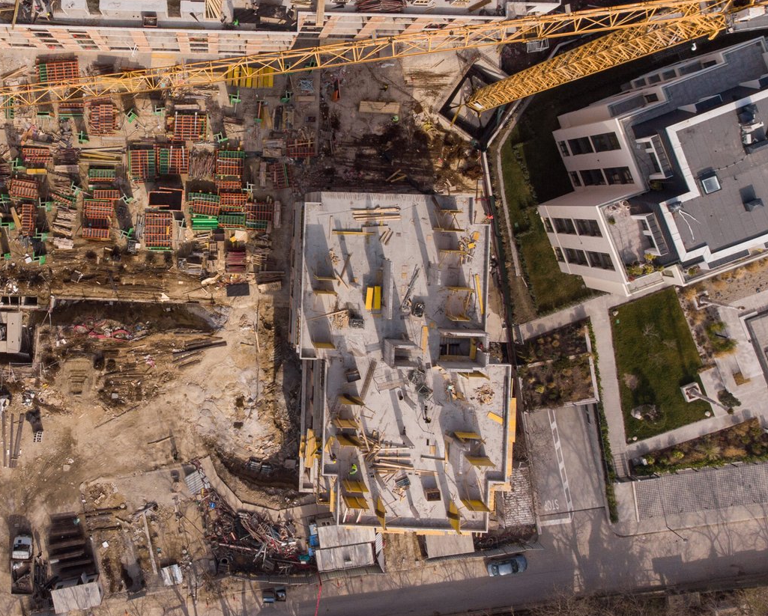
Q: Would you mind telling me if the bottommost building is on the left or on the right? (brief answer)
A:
left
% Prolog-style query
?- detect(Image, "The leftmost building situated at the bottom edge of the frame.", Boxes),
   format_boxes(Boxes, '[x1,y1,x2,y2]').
[50,573,104,614]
